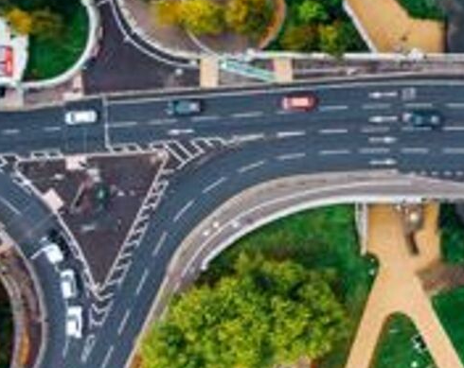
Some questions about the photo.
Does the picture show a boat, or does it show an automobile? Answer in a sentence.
Looking from above, you can make out an automobile.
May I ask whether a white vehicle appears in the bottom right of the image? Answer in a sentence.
No, there is no white vehicle in the bottom right of the image.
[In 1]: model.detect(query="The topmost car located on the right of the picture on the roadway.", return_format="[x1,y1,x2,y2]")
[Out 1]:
[283,95,316,111]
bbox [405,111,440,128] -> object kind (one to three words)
car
